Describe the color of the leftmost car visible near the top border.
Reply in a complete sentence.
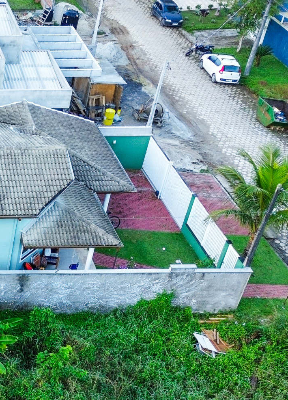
The color of the leftmost car visible near the top border is blue.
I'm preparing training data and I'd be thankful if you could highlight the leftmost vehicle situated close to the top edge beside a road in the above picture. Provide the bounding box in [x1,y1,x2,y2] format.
[150,0,186,24]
